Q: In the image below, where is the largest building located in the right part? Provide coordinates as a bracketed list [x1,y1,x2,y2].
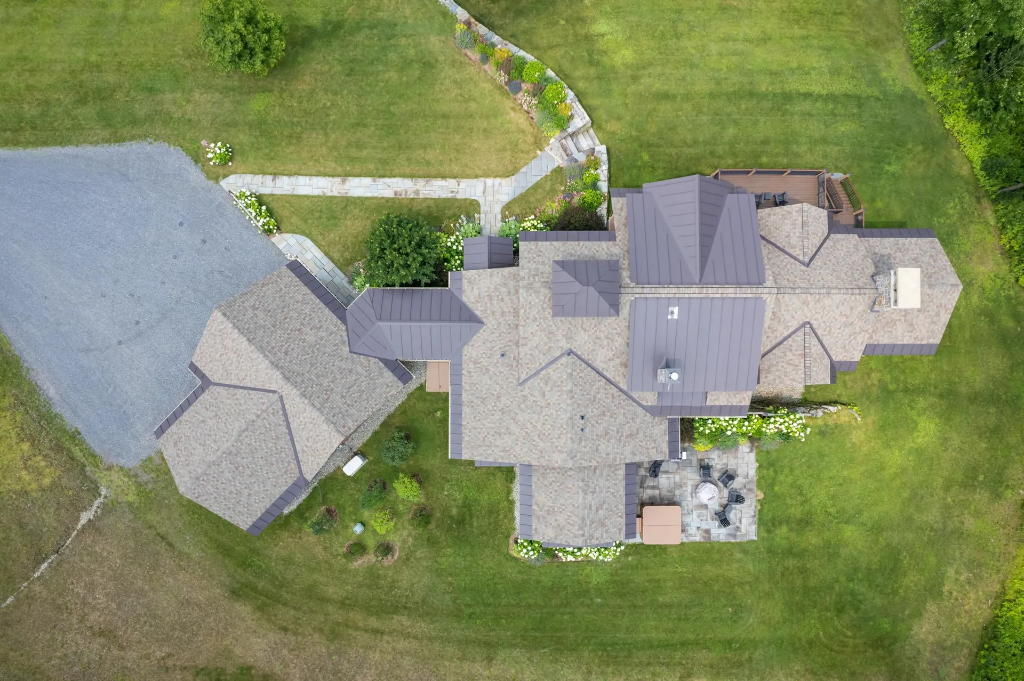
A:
[345,175,962,548]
